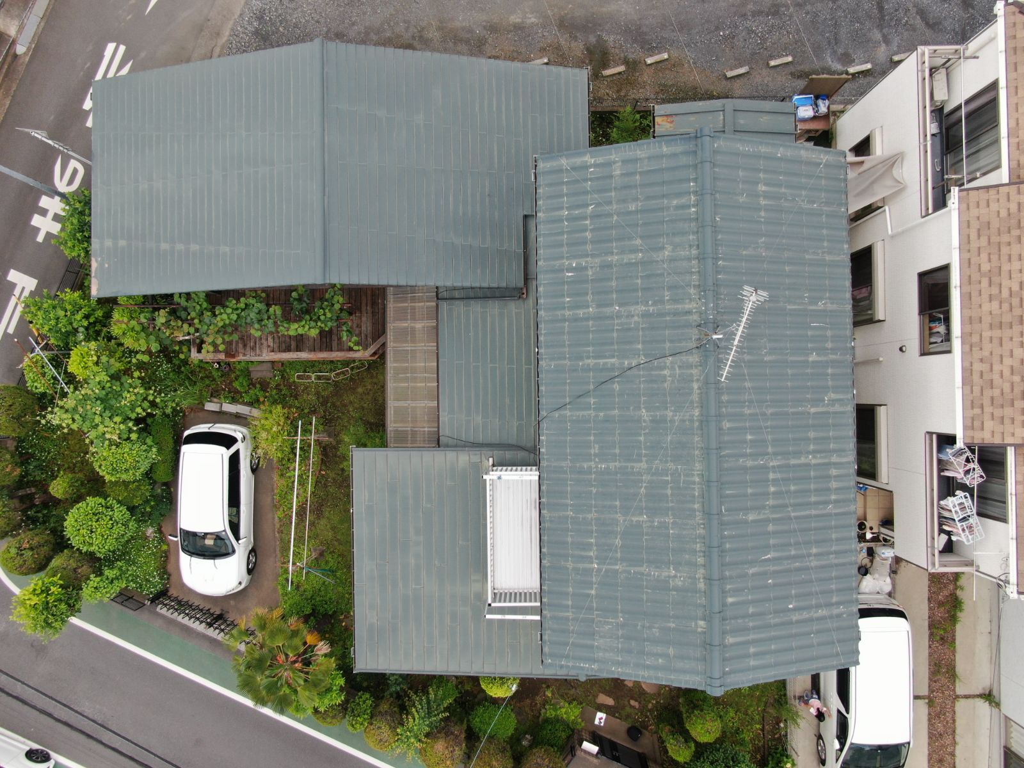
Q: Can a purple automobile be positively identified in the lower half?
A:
No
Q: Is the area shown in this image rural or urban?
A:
urban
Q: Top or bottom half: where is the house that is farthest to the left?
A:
top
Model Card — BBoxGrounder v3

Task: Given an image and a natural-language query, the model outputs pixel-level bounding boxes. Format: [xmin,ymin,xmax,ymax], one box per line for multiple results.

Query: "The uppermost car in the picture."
[164,422,262,596]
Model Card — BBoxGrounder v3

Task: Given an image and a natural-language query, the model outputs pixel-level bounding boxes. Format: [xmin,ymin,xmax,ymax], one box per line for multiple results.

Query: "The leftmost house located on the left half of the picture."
[89,33,593,299]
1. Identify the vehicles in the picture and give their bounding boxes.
[813,591,916,768]
[0,733,57,768]
[164,422,262,596]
